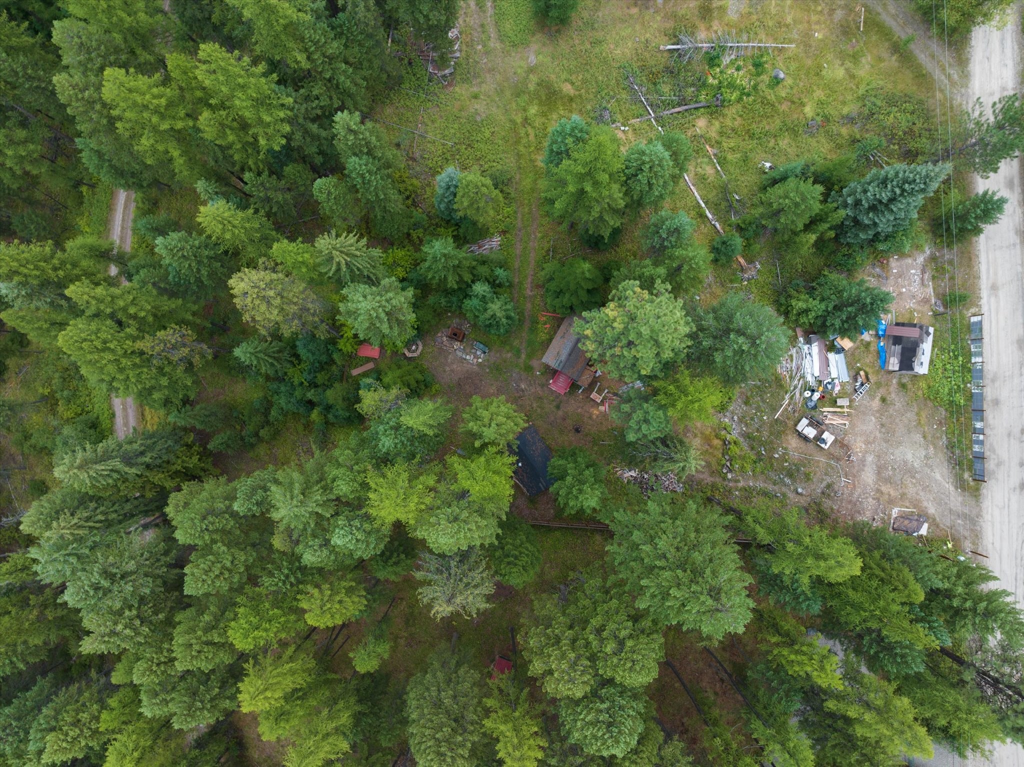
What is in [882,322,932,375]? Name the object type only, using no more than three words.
shed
